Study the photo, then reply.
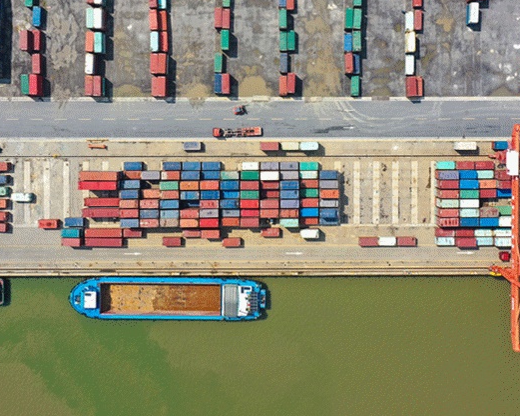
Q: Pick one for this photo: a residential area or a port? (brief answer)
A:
port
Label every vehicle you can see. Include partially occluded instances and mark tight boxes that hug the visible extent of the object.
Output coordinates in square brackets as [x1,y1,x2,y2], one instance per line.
[8,193,33,203]
[234,106,247,114]
[500,252,511,263]
[212,127,262,138]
